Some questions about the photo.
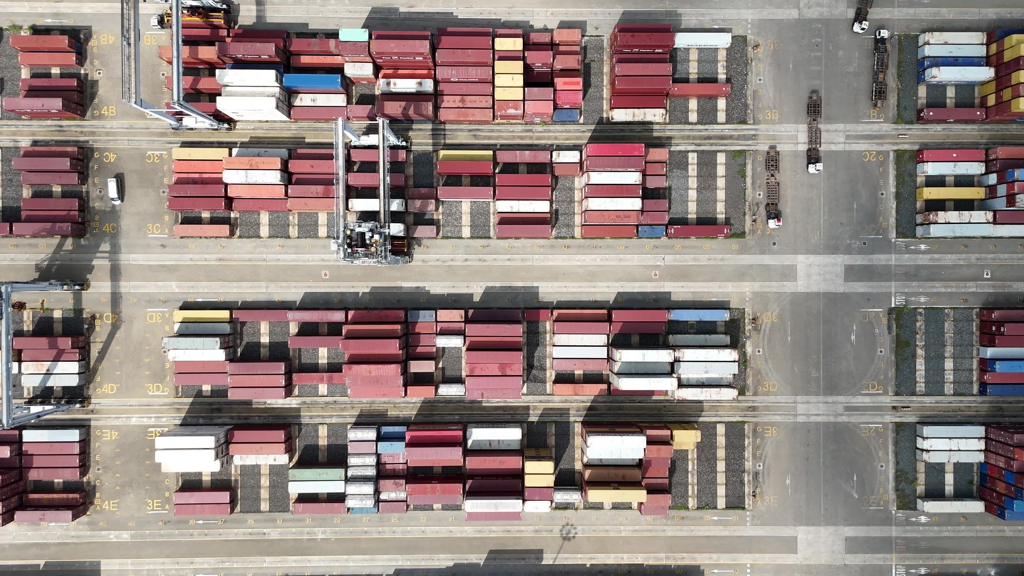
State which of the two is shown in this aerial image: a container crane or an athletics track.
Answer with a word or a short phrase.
container crane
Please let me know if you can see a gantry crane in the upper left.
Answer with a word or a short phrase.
Yes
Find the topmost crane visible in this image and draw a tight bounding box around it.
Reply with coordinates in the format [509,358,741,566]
[118,0,239,131]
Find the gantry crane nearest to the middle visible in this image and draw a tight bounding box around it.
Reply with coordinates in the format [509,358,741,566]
[326,118,419,264]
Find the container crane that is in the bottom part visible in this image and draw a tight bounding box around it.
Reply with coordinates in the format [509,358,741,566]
[0,282,91,427]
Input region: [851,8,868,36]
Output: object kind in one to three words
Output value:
vehicle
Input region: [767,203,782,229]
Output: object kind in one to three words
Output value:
vehicle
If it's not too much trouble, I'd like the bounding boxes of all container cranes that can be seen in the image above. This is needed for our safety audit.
[118,0,239,131]
[326,118,419,264]
[0,282,91,427]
